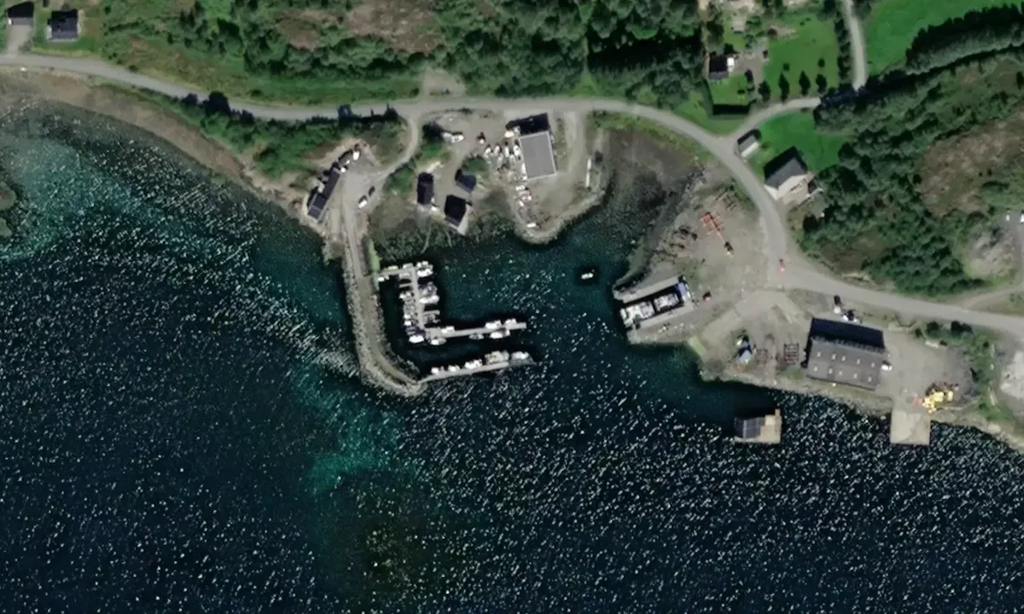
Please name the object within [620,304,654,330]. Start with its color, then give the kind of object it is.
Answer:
white boat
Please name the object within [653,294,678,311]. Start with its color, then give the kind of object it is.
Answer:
white boat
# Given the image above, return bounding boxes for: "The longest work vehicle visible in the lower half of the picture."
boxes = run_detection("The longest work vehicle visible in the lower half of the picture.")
[923,390,946,406]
